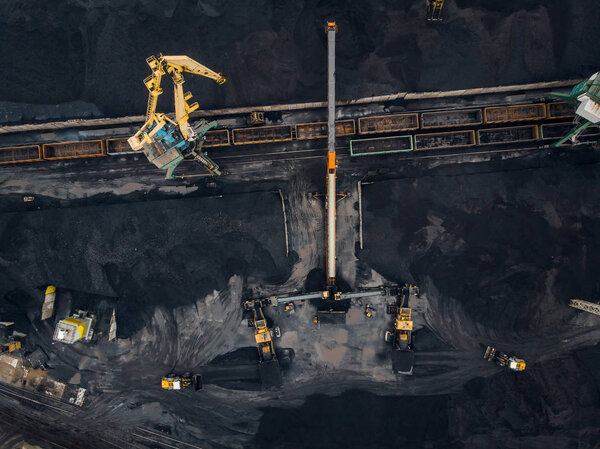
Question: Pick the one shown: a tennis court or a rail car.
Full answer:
This aerial view contains a rail car.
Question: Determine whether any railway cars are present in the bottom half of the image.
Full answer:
No, no railway car is visible in the bottom half of the image.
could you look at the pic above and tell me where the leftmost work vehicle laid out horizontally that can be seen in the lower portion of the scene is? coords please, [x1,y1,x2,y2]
[161,375,204,393]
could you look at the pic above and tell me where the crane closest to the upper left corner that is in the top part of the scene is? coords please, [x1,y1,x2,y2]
[127,52,226,179]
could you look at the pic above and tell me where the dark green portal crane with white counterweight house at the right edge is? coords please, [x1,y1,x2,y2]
[545,71,600,146]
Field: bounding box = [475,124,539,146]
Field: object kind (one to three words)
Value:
rail car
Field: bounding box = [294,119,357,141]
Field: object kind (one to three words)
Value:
rail car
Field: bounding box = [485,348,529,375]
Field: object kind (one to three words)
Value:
work vehicle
